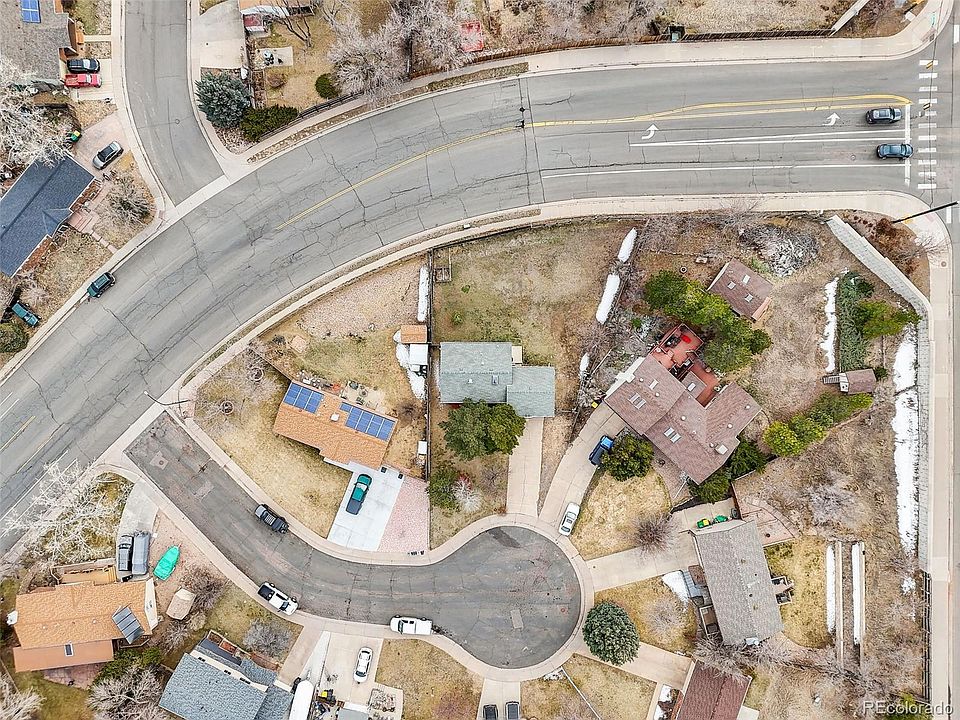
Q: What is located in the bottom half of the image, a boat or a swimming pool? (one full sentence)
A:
Looking in the bottom half of the image, you will find a boat.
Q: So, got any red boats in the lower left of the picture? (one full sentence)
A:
No, there's no red boat to be seen in the lower left of the picture.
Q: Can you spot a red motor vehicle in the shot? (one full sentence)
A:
Yes, the frame does contain a red motor vehicle.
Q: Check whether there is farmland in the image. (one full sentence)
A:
No, there is no farmland in the image.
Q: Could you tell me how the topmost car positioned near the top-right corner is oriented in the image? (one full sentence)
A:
The topmost car positioned near the top-right corner is laid out from side to side.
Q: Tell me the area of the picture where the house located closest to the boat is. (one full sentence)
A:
The house located closest to the boat is located in the bottom left region of the scene.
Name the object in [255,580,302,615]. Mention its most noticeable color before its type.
white truck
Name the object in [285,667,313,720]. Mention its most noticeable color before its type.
white trailer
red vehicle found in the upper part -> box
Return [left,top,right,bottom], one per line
[65,70,104,90]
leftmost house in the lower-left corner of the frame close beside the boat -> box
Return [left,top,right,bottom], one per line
[3,576,160,672]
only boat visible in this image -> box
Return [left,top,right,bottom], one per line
[152,542,182,581]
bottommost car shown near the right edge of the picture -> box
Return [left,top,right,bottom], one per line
[875,142,912,160]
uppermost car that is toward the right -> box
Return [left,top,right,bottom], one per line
[864,106,902,126]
